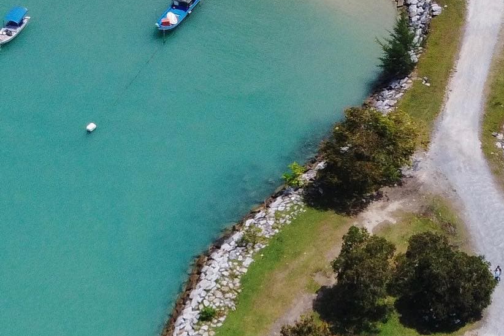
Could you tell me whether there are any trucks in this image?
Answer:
No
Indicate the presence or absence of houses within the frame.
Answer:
No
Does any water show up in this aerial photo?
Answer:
Yes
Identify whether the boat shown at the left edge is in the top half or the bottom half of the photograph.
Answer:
top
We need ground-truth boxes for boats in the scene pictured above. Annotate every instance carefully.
[0,3,34,44]
[157,0,205,30]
